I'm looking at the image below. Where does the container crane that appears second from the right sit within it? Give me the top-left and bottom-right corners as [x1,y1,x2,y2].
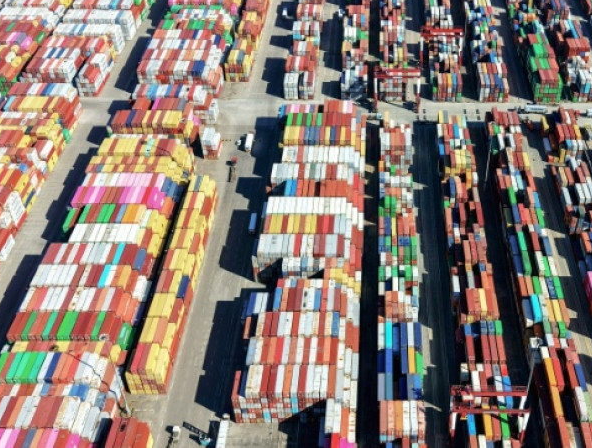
[418,26,467,66]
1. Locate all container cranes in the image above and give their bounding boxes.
[371,69,422,112]
[444,389,534,448]
[418,26,467,66]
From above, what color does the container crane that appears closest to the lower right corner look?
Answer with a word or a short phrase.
red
